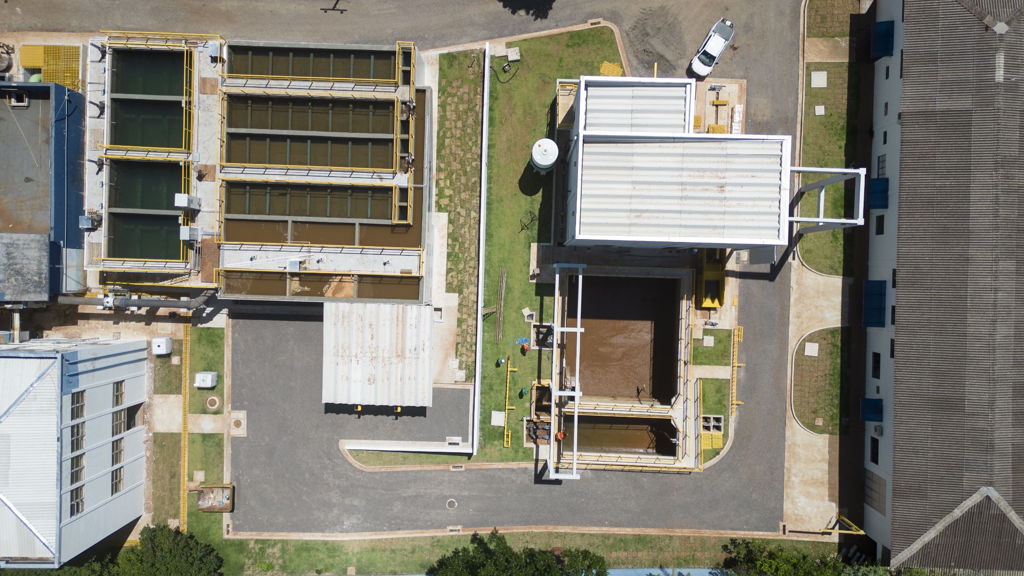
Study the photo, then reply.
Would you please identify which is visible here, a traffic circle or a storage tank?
storage tank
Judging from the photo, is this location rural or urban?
urban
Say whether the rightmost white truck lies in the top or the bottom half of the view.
top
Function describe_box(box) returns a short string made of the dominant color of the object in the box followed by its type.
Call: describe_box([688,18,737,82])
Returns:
white truck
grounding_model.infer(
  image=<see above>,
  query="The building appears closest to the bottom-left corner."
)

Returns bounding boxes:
[0,338,150,572]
